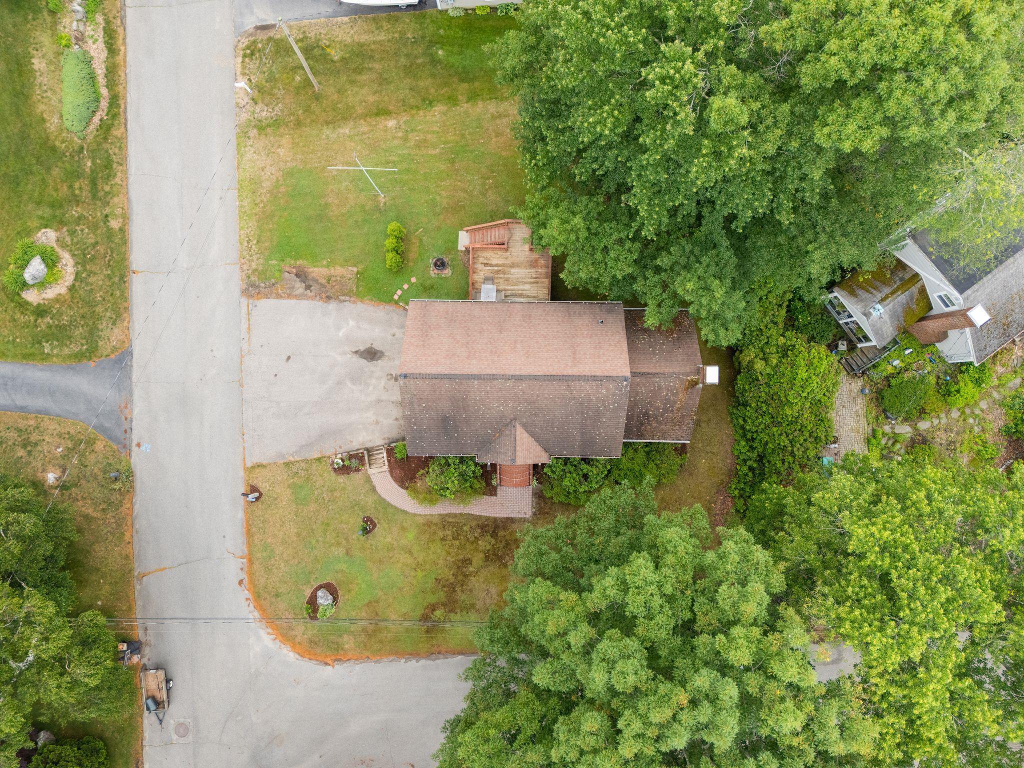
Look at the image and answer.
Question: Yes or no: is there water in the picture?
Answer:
No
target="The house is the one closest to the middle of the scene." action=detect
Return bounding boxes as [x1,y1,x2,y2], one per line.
[400,298,717,467]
